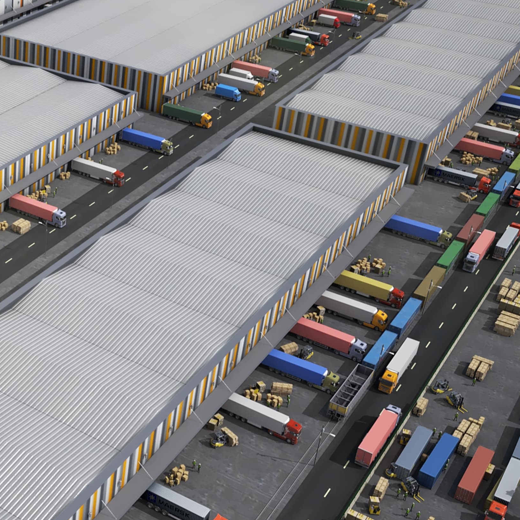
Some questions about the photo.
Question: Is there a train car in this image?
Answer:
Yes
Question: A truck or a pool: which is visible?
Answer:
truck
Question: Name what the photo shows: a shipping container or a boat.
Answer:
shipping container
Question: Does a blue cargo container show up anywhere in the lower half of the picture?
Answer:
Yes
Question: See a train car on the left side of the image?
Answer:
No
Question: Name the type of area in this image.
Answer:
industrial area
